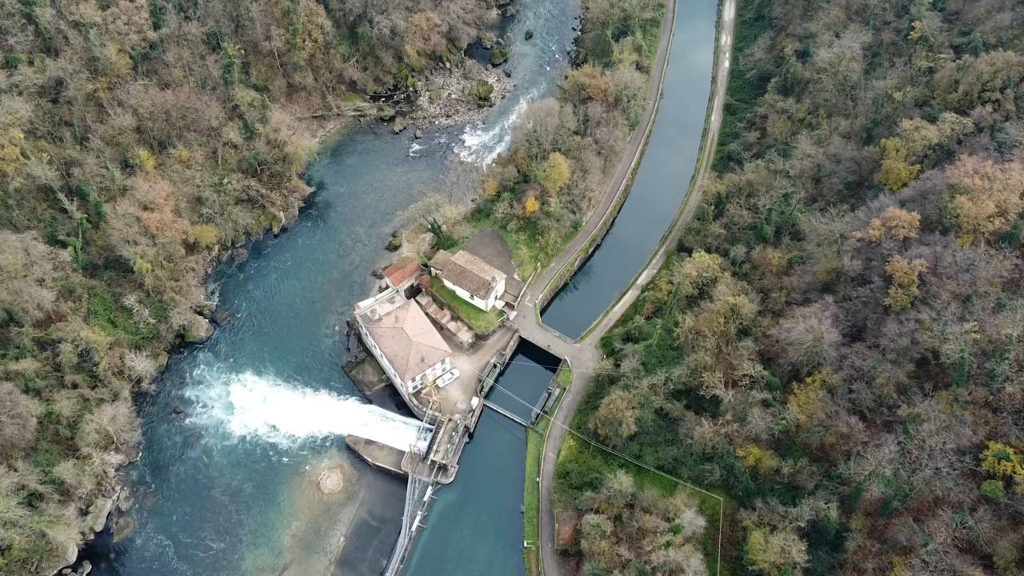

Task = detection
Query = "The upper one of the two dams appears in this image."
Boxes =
[402,417,476,486]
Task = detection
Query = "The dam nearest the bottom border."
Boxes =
[382,474,441,576]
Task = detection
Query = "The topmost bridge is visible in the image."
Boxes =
[518,319,575,359]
